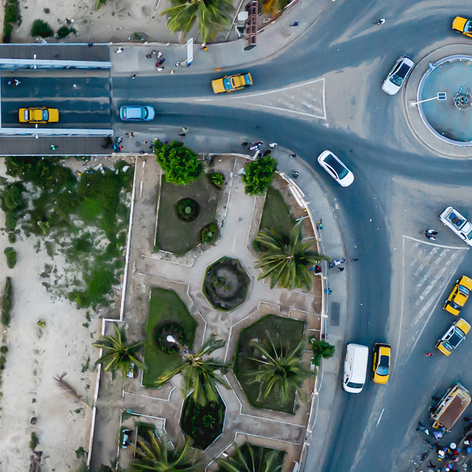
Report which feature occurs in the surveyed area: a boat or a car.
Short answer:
car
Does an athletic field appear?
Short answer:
No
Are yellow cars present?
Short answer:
Yes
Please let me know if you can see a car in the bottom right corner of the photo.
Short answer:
Yes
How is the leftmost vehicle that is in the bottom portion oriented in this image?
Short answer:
up and down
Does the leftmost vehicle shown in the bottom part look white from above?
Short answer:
Yes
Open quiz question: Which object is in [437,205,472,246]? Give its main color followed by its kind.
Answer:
white truck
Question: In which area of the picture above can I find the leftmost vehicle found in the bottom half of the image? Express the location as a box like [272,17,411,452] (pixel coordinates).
[345,343,366,392]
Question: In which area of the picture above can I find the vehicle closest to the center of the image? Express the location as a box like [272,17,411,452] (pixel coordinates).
[316,148,353,189]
